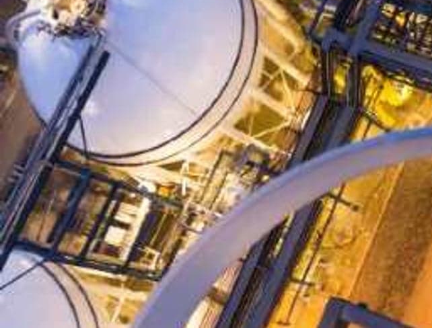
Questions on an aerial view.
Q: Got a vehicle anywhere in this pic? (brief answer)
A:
No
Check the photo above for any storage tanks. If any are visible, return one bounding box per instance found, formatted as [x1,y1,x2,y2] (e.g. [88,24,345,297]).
[14,0,311,187]
[0,239,157,328]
